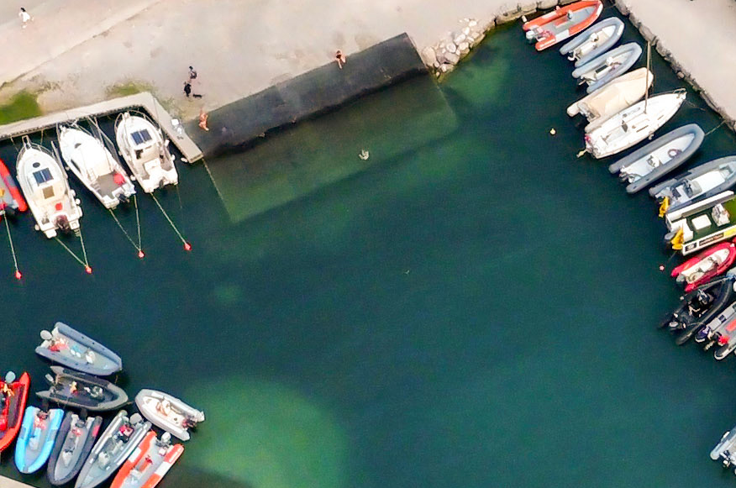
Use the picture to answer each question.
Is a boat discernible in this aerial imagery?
Yes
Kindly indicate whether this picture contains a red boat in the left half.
Yes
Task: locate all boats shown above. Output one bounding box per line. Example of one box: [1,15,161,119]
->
[651,154,736,213]
[522,0,605,50]
[711,421,736,473]
[658,273,736,344]
[47,413,102,484]
[572,42,643,92]
[581,50,687,160]
[610,125,707,194]
[559,18,625,66]
[695,302,736,360]
[74,411,151,488]
[38,322,122,374]
[568,70,654,133]
[40,365,128,408]
[671,242,736,292]
[0,372,28,451]
[59,121,141,212]
[118,108,179,196]
[111,433,181,488]
[18,136,84,238]
[134,390,205,438]
[19,404,64,474]
[0,154,27,217]
[657,193,736,256]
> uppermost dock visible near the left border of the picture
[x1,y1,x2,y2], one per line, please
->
[0,94,206,170]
